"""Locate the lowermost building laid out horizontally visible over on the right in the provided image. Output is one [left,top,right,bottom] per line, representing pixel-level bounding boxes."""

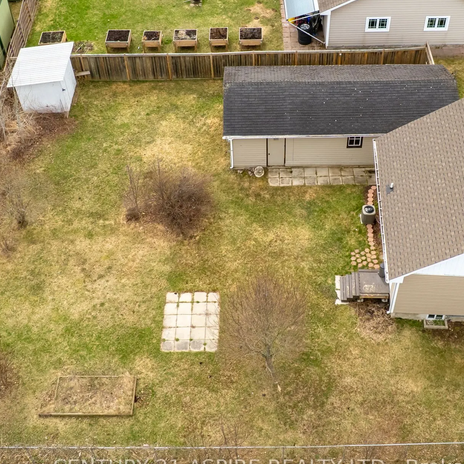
[222,65,460,172]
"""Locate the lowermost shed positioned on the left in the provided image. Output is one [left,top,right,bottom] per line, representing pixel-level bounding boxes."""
[7,40,83,113]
